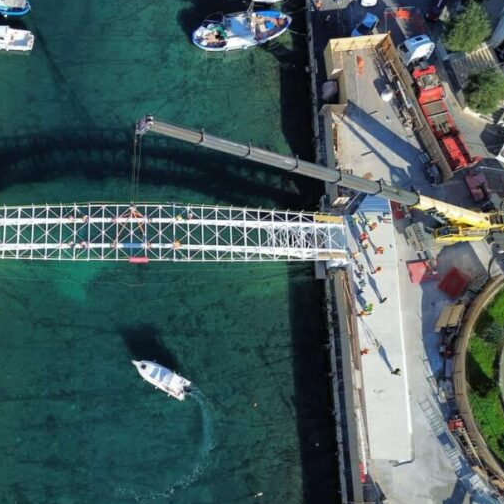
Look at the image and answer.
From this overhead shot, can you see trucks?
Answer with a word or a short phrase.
Yes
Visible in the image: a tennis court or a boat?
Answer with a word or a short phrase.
boat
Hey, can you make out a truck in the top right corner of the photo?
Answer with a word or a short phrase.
Yes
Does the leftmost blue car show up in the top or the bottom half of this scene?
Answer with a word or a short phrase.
top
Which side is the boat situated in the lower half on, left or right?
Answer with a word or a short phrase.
left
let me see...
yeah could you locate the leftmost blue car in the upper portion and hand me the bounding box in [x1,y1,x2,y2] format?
[349,12,379,39]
